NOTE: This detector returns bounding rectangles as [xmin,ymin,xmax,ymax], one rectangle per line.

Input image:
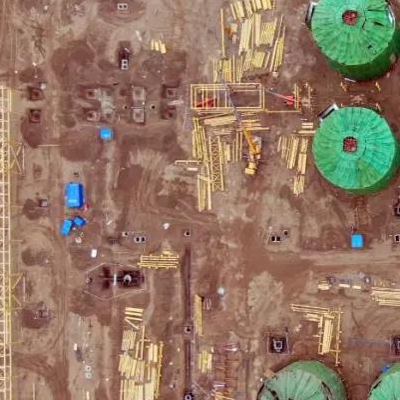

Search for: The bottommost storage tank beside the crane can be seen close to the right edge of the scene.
[313,102,400,195]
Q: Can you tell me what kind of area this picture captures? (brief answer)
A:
industrial area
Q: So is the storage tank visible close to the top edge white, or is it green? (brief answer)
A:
green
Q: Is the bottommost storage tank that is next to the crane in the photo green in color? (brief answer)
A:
Yes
